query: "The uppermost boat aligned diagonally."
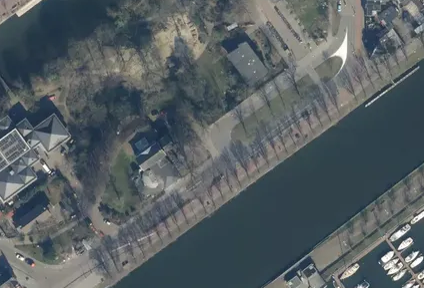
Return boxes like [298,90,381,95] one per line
[409,210,424,226]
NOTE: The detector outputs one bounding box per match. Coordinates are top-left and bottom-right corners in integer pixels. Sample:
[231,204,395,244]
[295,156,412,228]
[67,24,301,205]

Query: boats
[340,262,361,280]
[357,281,370,288]
[402,280,416,288]
[409,256,424,269]
[382,258,399,272]
[389,222,412,241]
[409,210,424,226]
[331,277,340,288]
[404,251,419,263]
[388,261,404,275]
[397,236,415,251]
[379,251,395,263]
[391,269,406,282]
